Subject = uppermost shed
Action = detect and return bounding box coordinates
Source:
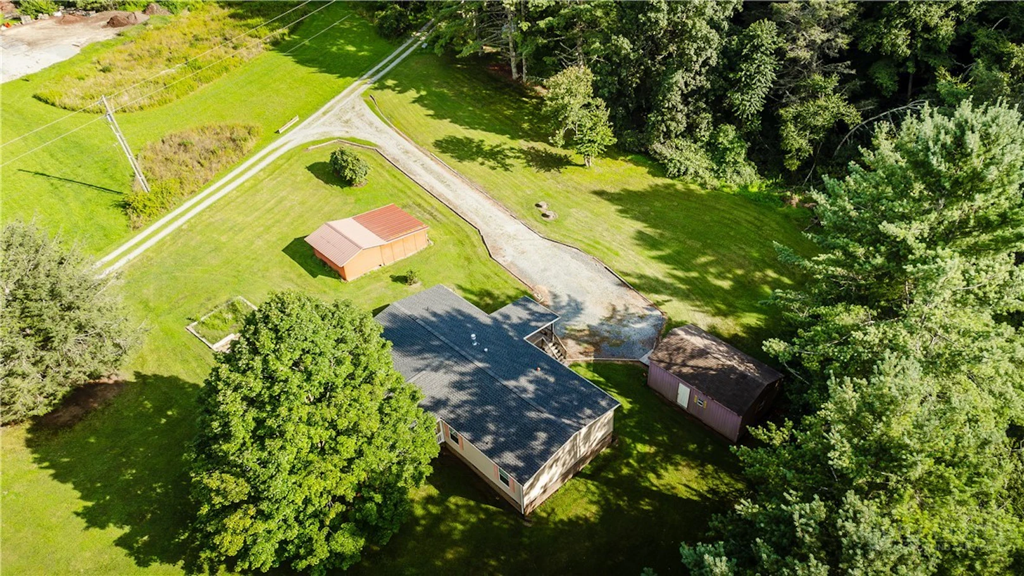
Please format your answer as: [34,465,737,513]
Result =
[306,204,429,282]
